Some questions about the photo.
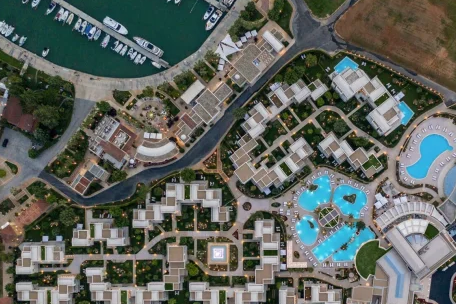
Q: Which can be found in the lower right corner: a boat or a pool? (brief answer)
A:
pool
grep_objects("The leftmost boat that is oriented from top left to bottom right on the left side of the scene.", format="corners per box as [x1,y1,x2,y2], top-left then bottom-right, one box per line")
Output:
[102,14,127,32]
